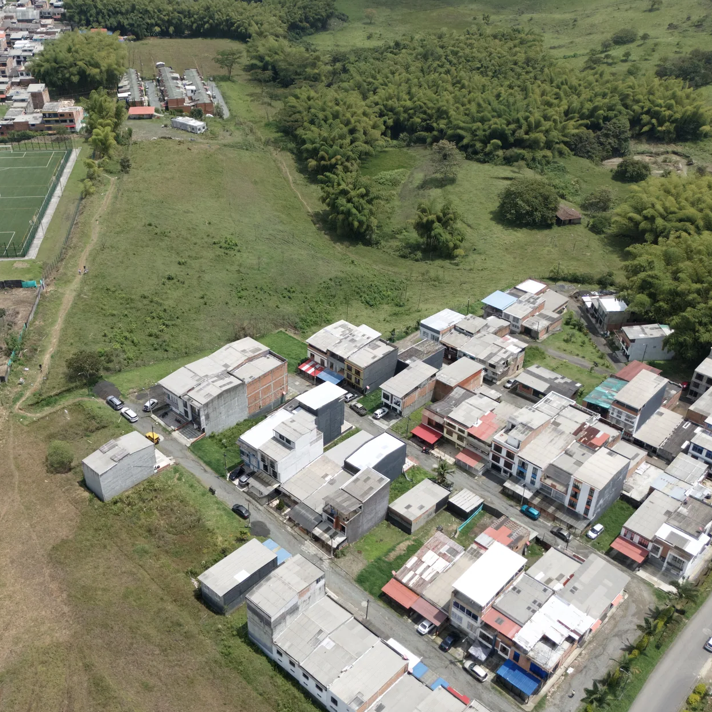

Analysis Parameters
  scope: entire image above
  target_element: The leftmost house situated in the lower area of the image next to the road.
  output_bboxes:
[80,432,177,500]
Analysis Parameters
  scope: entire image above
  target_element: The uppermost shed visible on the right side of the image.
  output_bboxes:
[550,207,582,224]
